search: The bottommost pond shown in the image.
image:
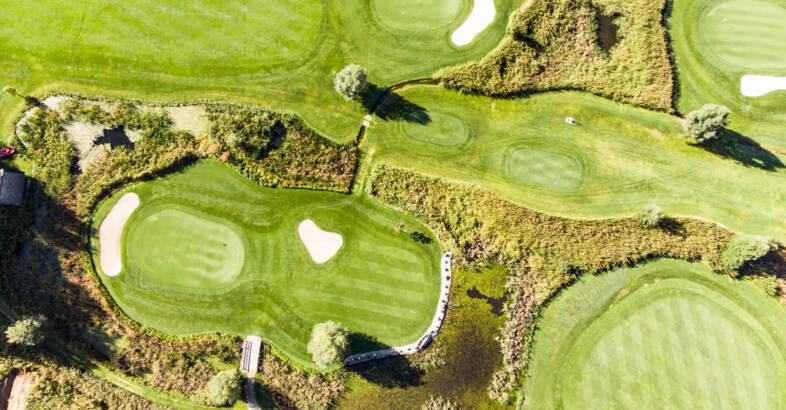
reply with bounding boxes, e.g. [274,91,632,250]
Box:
[339,256,511,410]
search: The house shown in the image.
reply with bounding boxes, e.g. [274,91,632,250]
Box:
[0,170,35,206]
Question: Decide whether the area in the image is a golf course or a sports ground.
golf course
